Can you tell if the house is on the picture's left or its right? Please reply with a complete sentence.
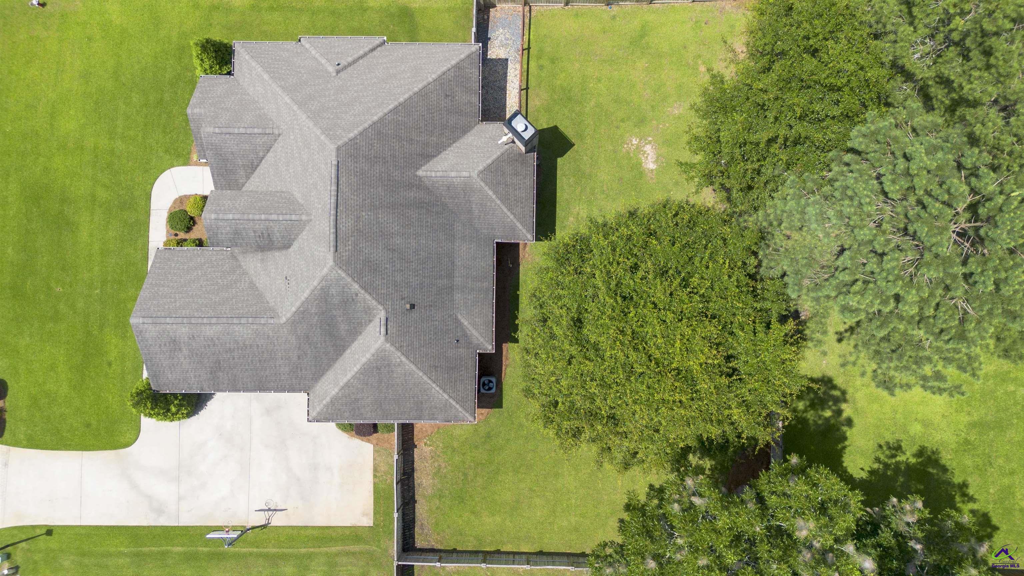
It is on the left.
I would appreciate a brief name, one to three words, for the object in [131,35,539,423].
house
